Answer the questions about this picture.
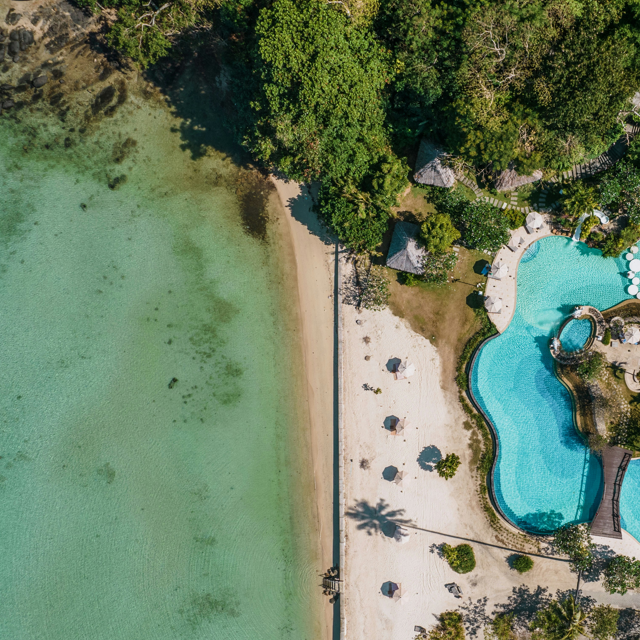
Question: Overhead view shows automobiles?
No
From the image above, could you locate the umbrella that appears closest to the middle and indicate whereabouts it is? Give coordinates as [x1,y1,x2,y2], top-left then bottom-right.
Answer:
[397,360,414,377]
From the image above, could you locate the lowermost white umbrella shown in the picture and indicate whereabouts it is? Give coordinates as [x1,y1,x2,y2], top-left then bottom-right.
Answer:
[393,588,409,604]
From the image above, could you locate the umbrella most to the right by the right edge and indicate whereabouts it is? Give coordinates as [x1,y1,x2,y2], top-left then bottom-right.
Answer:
[625,327,640,344]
